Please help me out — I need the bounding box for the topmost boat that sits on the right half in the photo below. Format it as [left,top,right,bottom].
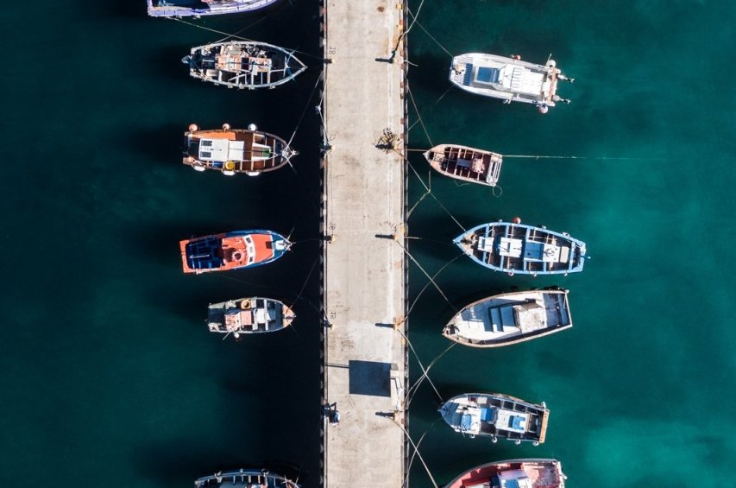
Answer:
[449,53,575,112]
